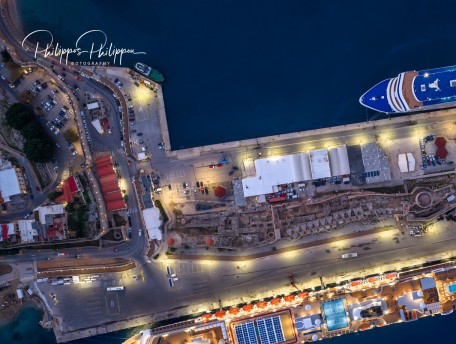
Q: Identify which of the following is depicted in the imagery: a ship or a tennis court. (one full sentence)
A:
I can see a ship in this picture.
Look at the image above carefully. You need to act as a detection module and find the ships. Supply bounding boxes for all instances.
[123,260,456,344]
[359,65,456,109]
[131,57,165,81]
